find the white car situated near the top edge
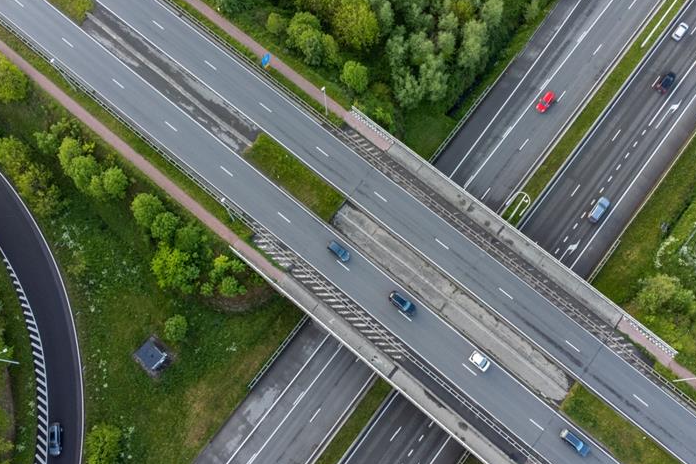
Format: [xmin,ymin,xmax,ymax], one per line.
[669,21,689,42]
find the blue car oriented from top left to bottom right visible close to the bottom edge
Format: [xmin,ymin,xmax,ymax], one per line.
[556,426,591,458]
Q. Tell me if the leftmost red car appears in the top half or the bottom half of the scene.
top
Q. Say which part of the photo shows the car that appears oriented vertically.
bottom left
